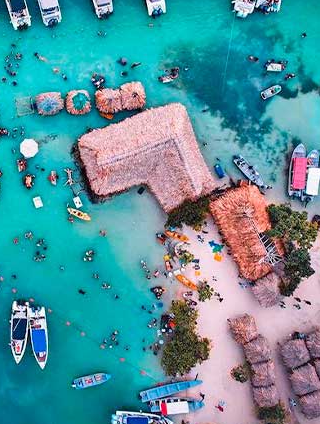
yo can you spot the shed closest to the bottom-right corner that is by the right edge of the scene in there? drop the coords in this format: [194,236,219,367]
[291,388,320,417]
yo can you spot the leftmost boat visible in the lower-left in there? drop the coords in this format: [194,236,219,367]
[11,302,29,364]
